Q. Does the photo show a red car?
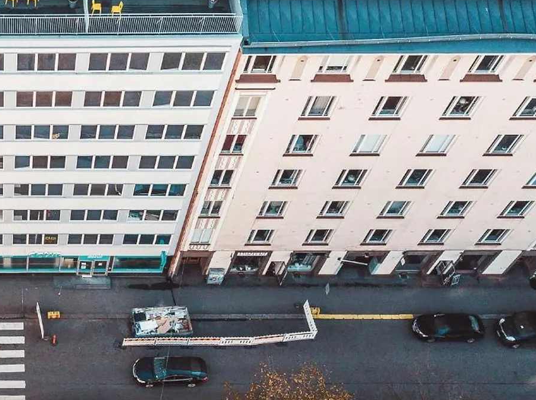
No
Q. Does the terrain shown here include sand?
No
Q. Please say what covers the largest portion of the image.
buildings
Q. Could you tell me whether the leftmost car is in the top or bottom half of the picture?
bottom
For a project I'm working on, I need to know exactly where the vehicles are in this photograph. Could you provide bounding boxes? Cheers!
[132,351,209,386]
[492,310,536,347]
[411,308,489,341]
